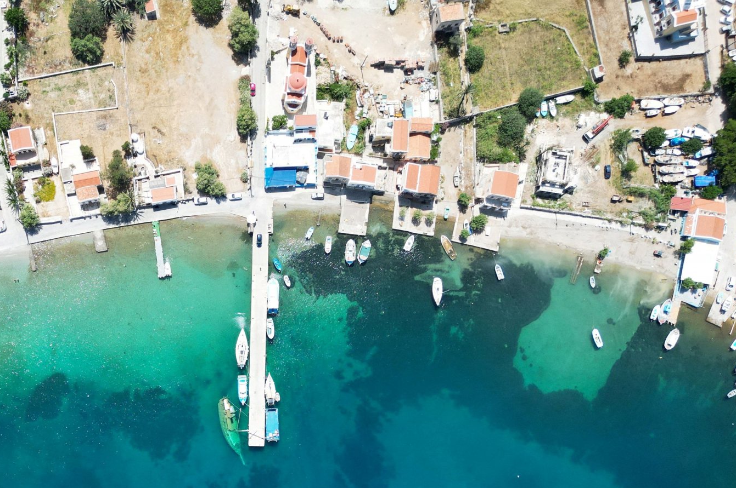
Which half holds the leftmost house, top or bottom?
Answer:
top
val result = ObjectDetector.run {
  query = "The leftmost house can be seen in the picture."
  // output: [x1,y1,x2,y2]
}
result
[7,125,44,178]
